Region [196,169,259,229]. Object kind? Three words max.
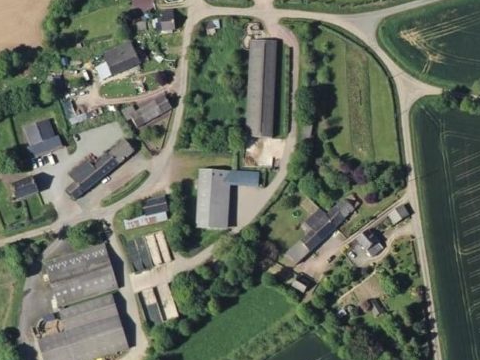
barn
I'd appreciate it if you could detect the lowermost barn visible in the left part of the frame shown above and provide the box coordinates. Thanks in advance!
[37,296,130,360]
